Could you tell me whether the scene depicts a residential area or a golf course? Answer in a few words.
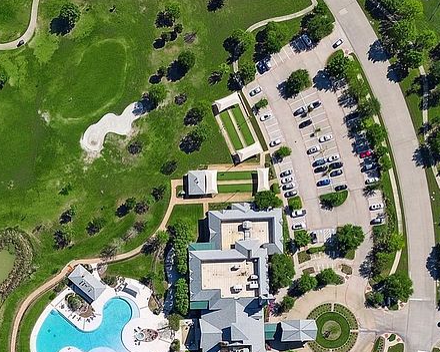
golf course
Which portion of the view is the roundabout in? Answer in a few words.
bottom right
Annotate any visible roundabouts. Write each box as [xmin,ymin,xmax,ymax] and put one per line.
[306,302,358,352]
